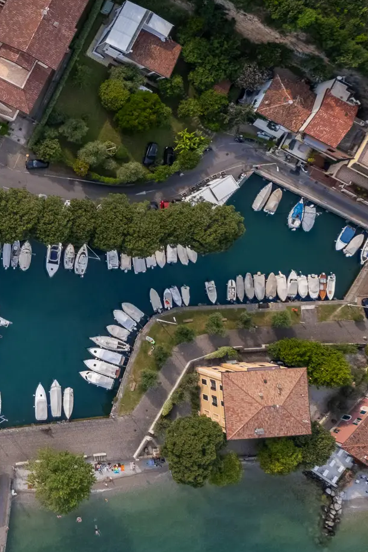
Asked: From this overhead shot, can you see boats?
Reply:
Yes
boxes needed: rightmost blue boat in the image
[336,225,355,249]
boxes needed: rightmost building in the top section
[331,117,368,192]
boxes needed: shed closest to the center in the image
[180,175,239,208]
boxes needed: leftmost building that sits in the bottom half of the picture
[197,362,313,441]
